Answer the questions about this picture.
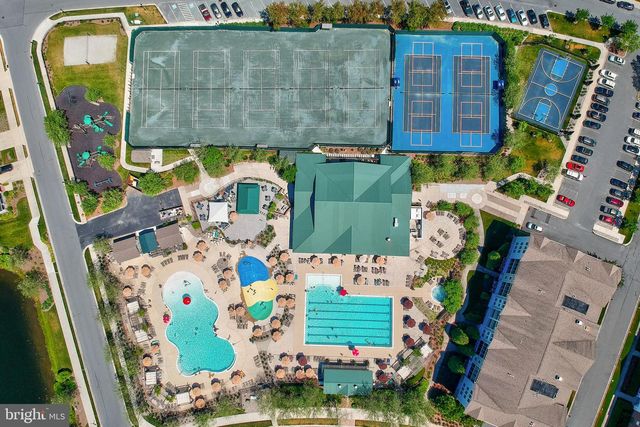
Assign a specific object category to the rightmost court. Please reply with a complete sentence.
The rightmost court can be classified as a basketball court.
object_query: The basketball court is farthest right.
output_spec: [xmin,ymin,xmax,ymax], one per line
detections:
[513,49,588,131]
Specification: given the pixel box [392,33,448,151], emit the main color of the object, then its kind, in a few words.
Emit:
blue tennis court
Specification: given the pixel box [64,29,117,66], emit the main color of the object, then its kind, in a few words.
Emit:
white sports court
